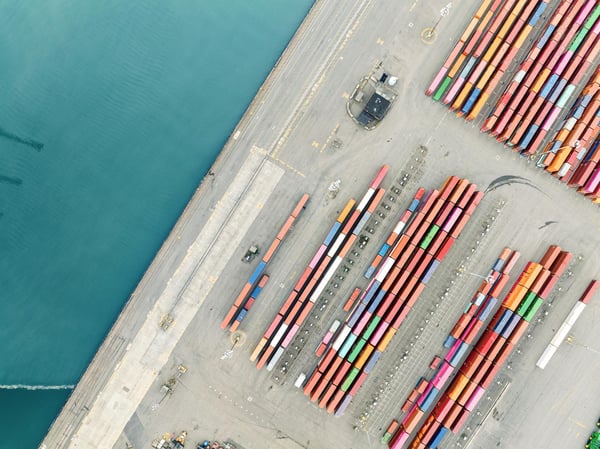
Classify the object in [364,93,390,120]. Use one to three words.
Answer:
building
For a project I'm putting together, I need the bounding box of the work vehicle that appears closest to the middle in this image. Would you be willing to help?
[241,246,260,265]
